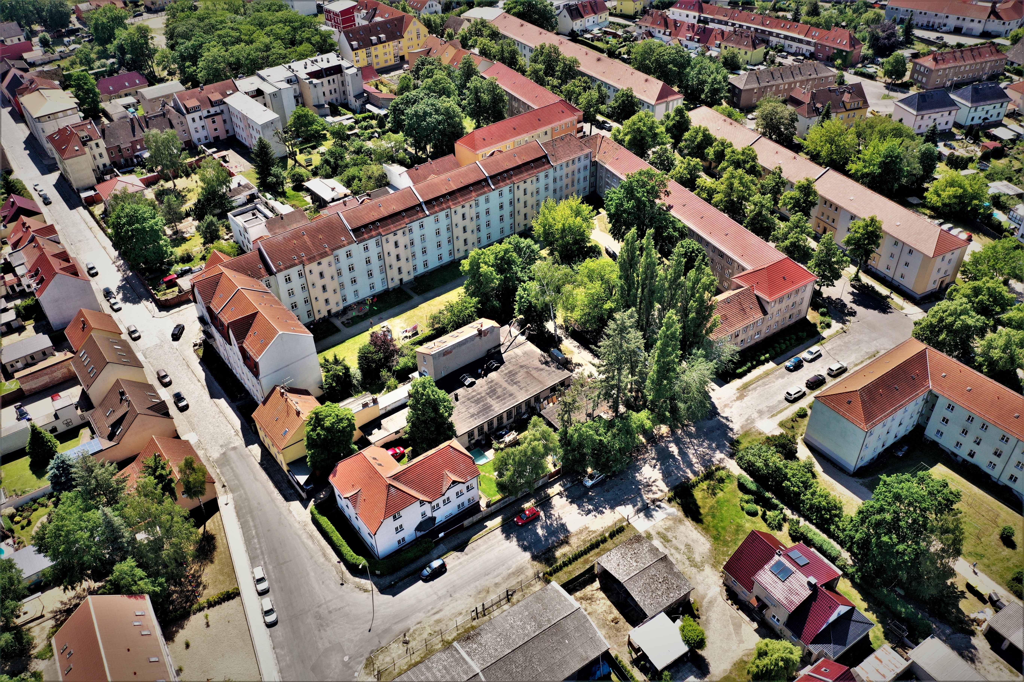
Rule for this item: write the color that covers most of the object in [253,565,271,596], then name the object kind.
white car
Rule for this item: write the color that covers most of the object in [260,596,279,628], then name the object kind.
white car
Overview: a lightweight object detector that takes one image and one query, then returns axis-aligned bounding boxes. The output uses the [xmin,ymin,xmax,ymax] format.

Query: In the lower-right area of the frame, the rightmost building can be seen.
[986,603,1024,667]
